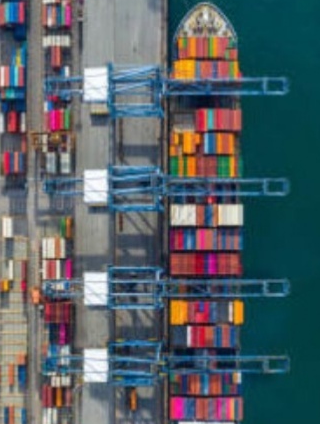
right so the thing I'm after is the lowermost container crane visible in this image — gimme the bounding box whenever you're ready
[44,334,289,387]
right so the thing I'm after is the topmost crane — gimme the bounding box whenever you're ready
[44,62,289,125]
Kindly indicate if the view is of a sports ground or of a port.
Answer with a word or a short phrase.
port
